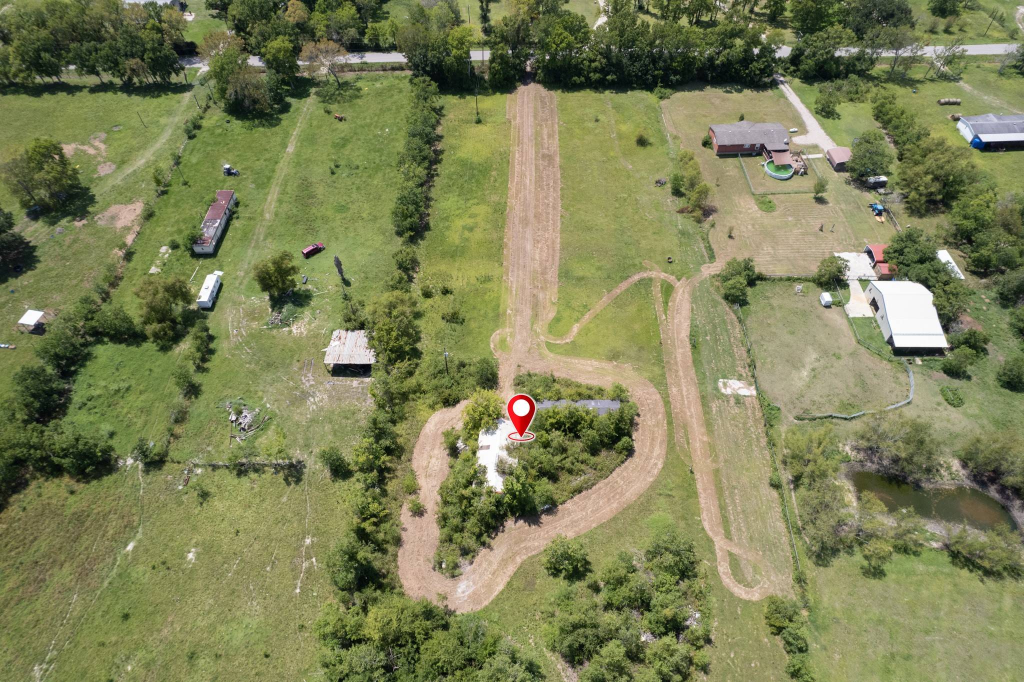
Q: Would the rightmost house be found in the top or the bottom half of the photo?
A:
top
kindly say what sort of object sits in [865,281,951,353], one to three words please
barn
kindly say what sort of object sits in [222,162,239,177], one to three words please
work vehicle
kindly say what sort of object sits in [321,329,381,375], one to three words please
shed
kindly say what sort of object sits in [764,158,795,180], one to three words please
swimming pool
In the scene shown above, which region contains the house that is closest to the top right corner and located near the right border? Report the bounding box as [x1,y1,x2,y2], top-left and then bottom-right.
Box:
[960,110,1024,148]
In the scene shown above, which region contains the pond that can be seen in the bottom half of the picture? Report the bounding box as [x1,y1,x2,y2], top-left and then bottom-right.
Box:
[846,470,1020,534]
